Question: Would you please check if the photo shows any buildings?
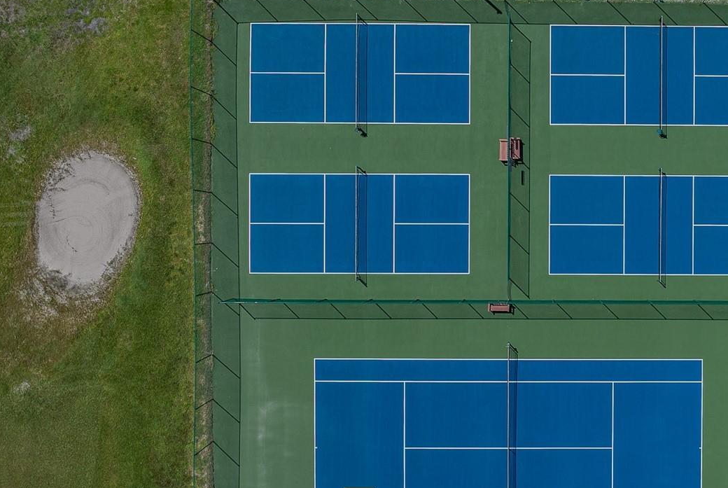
No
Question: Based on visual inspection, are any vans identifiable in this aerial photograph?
No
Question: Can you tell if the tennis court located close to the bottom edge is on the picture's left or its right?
right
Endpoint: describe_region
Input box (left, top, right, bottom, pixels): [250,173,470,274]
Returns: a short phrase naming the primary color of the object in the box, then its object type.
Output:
blue sports court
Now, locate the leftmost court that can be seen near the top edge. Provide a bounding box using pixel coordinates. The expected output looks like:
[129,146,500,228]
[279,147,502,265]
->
[250,23,470,124]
